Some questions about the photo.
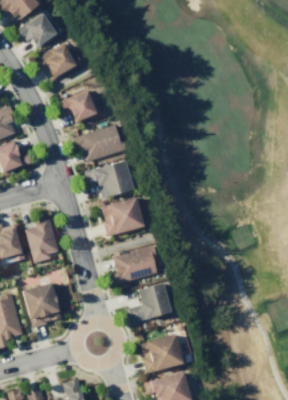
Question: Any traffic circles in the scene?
Yes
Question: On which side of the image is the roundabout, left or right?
left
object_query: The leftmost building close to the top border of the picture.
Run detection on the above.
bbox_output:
[2,0,38,19]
